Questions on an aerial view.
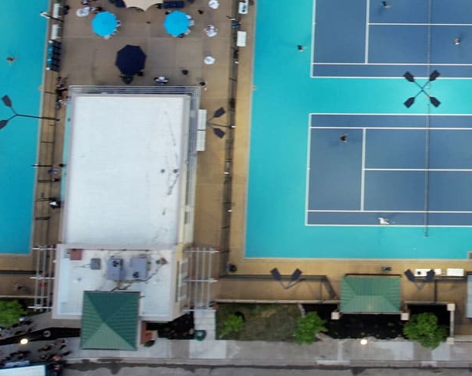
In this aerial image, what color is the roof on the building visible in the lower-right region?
green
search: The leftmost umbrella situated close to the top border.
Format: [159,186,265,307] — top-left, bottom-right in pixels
[93,12,121,37]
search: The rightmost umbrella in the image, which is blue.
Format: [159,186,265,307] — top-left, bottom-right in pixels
[166,11,192,36]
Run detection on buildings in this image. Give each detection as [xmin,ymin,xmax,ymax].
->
[23,86,219,350]
[340,275,403,313]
